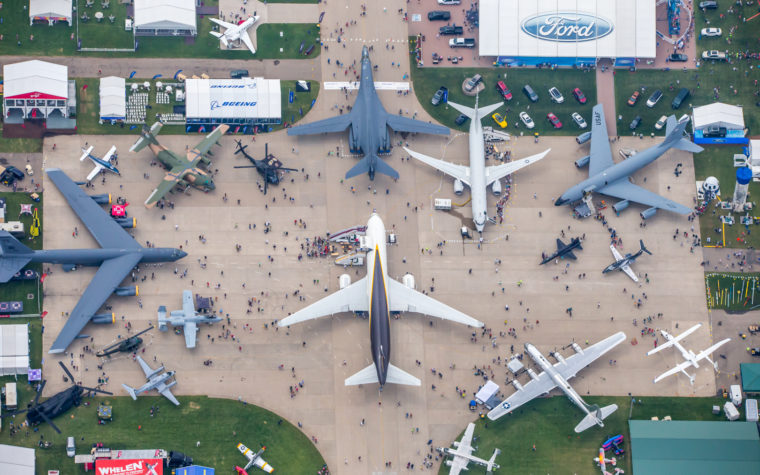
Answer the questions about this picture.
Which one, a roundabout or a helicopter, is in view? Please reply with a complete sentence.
The one in the frame is a helicopter.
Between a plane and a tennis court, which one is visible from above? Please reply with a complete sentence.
It is a plane that can be seen here.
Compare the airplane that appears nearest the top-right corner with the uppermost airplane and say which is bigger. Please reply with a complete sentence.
The airplane that appears nearest the top-right corner takes up more space than the uppermost airplane.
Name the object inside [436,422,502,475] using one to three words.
airplane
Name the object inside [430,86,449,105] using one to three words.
vehicle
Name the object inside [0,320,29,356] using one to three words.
tent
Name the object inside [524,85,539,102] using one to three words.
car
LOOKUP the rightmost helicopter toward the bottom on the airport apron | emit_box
[93,327,152,357]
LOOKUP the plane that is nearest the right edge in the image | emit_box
[646,324,734,387]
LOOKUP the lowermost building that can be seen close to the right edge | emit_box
[627,419,760,475]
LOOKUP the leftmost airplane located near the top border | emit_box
[209,16,260,56]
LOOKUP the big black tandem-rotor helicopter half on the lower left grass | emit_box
[0,361,113,431]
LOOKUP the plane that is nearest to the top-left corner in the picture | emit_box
[80,146,122,181]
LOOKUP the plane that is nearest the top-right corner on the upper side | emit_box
[557,96,707,215]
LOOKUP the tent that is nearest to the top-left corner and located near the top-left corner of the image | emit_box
[27,0,75,26]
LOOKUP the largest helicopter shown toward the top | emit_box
[232,133,298,192]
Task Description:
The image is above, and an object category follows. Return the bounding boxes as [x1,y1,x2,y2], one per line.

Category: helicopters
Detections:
[30,209,39,238]
[93,327,152,357]
[0,361,113,431]
[232,133,298,192]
